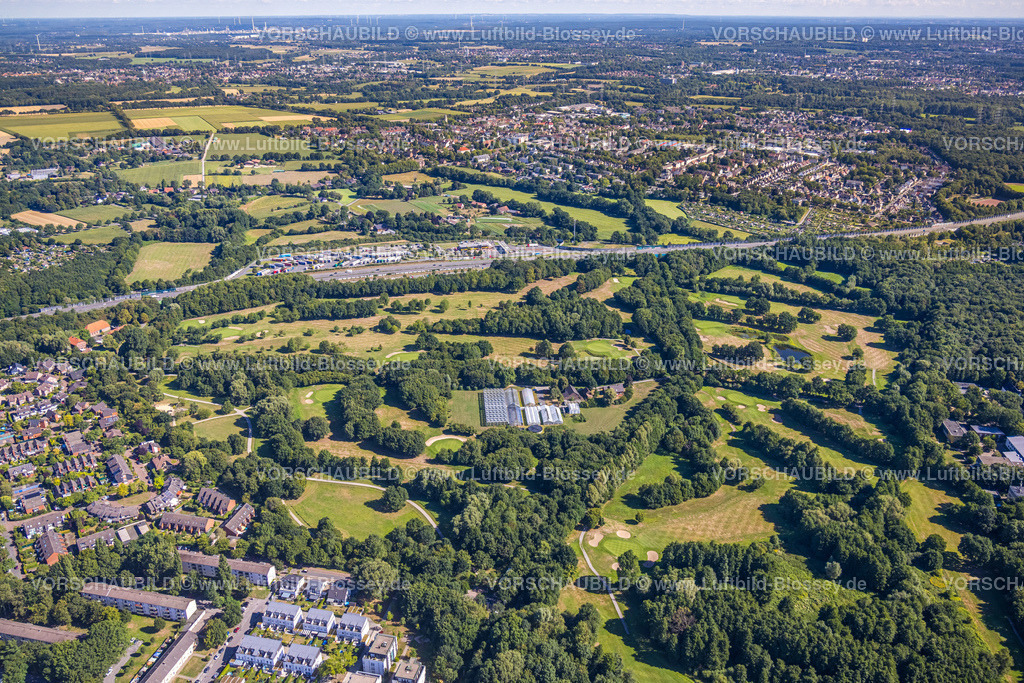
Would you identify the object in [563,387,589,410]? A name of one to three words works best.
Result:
barn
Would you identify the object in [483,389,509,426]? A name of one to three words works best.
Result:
greenhouse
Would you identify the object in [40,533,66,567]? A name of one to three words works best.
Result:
house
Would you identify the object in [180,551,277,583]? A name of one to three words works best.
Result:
building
